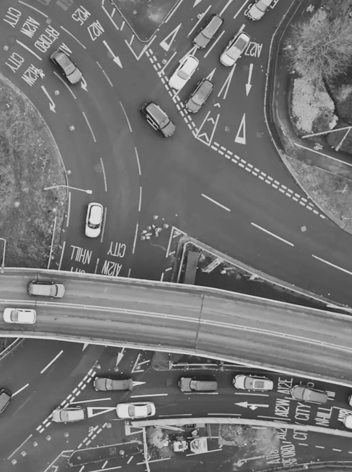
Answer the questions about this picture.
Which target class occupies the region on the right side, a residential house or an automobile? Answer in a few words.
automobile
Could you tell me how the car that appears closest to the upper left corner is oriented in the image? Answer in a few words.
diagonally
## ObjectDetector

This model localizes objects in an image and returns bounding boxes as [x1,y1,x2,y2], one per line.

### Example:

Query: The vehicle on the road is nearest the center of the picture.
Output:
[84,203,104,237]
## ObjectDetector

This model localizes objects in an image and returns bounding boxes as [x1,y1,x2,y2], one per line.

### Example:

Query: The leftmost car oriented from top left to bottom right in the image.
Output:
[46,46,83,87]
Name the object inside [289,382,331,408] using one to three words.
car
